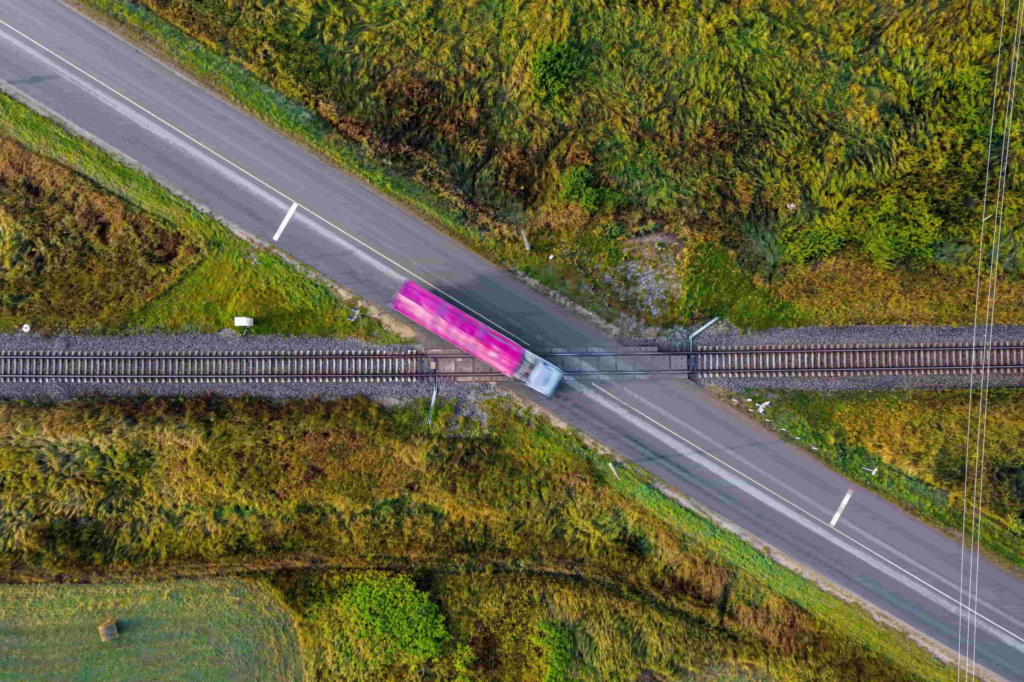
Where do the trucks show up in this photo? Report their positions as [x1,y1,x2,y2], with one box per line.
[391,278,563,400]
